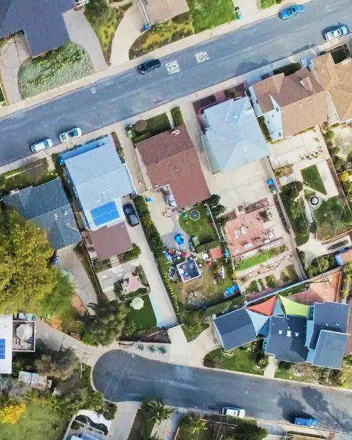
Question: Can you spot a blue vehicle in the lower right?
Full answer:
Yes, looking in the lower right, one can make out a blue vehicle.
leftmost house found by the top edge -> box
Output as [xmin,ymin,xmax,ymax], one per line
[0,0,76,61]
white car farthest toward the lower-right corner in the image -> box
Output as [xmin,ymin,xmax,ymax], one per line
[219,406,247,420]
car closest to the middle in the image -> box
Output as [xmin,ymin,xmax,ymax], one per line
[122,201,141,228]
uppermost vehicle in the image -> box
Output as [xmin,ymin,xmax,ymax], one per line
[278,3,306,21]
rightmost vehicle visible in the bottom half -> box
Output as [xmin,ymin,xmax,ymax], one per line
[288,413,322,430]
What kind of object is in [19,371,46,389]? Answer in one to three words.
shed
